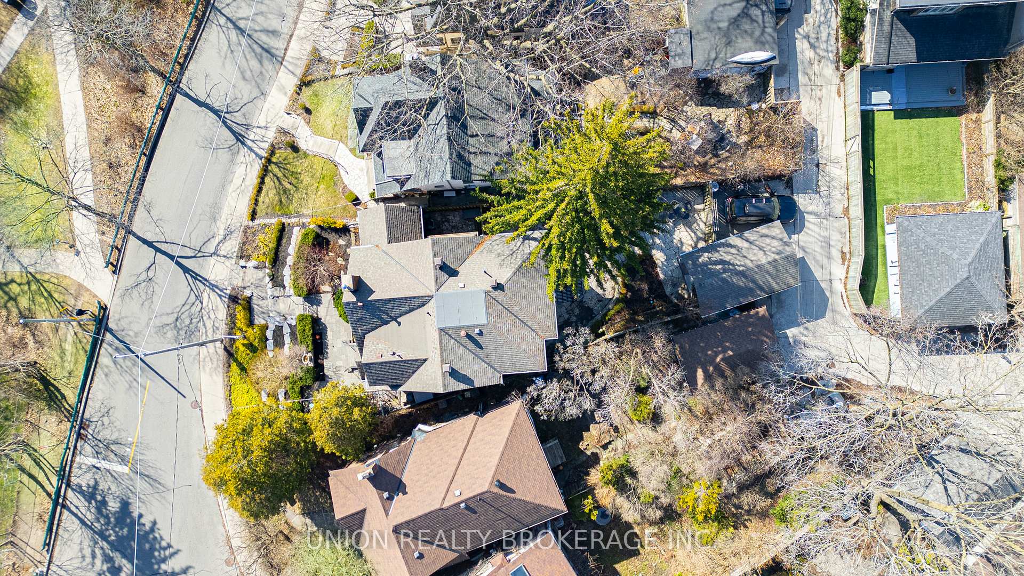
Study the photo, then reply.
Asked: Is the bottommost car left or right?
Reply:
right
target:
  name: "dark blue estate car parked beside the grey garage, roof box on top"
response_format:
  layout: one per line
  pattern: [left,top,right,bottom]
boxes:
[727,190,803,225]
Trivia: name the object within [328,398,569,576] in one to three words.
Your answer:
house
